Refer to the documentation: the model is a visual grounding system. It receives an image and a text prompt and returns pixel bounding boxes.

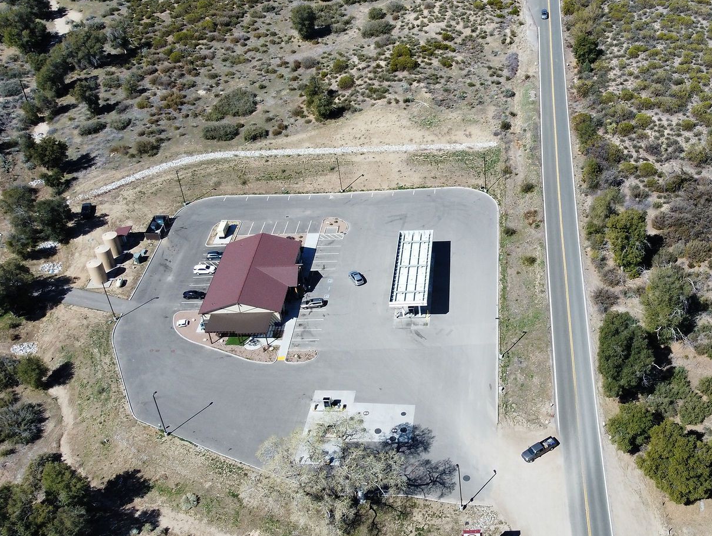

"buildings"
[197,233,304,344]
[116,225,134,244]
